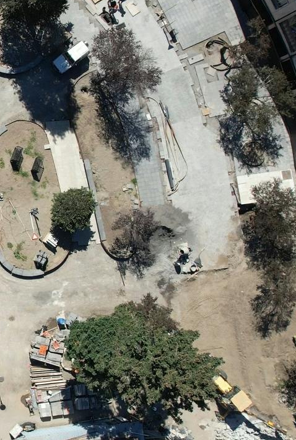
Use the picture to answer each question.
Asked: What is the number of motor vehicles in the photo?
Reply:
2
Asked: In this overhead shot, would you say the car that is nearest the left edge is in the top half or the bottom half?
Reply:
top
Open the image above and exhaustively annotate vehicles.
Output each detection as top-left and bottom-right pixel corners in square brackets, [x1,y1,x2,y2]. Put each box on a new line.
[55,36,96,72]
[203,356,291,438]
